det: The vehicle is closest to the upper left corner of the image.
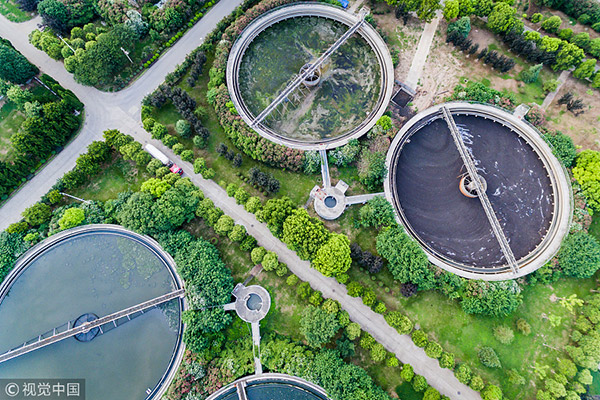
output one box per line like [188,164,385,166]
[146,145,188,177]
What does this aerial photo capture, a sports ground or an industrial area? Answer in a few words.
industrial area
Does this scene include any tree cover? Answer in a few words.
Yes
